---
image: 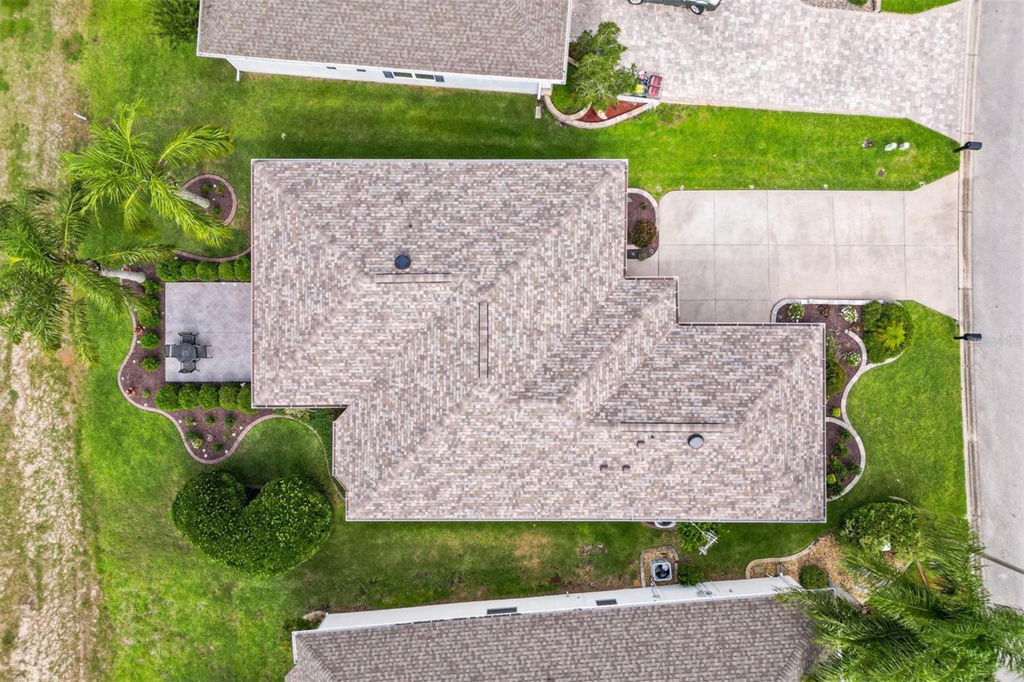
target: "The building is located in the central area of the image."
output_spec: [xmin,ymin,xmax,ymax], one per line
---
[252,160,825,521]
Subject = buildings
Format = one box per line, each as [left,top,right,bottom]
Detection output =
[252,160,825,521]
[197,0,571,99]
[290,572,843,682]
